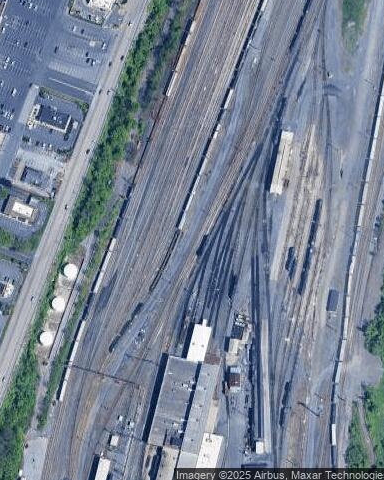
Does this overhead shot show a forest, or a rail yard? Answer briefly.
rail yard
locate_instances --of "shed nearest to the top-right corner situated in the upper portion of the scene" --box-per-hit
[270,131,294,195]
